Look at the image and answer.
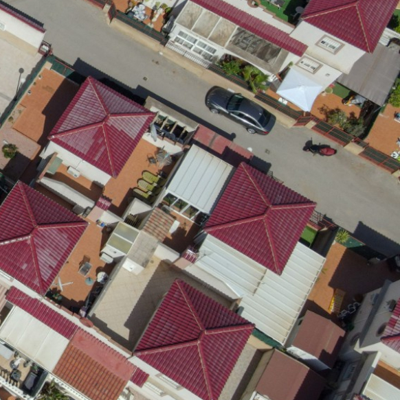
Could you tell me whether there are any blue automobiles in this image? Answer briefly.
No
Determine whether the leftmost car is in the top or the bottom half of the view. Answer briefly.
top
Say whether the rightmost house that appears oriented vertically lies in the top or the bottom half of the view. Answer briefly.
bottom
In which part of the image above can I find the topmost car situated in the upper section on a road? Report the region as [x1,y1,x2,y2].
[197,90,278,142]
